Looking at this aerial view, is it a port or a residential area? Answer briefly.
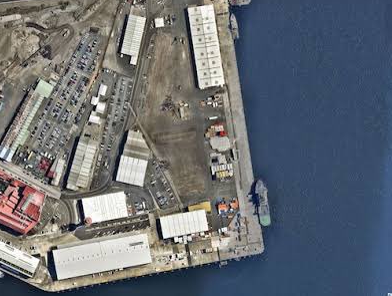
port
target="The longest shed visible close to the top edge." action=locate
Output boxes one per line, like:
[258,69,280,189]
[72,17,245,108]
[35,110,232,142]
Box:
[188,5,225,89]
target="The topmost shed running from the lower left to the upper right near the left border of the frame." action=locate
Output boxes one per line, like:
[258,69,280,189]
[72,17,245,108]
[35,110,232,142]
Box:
[2,85,51,152]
